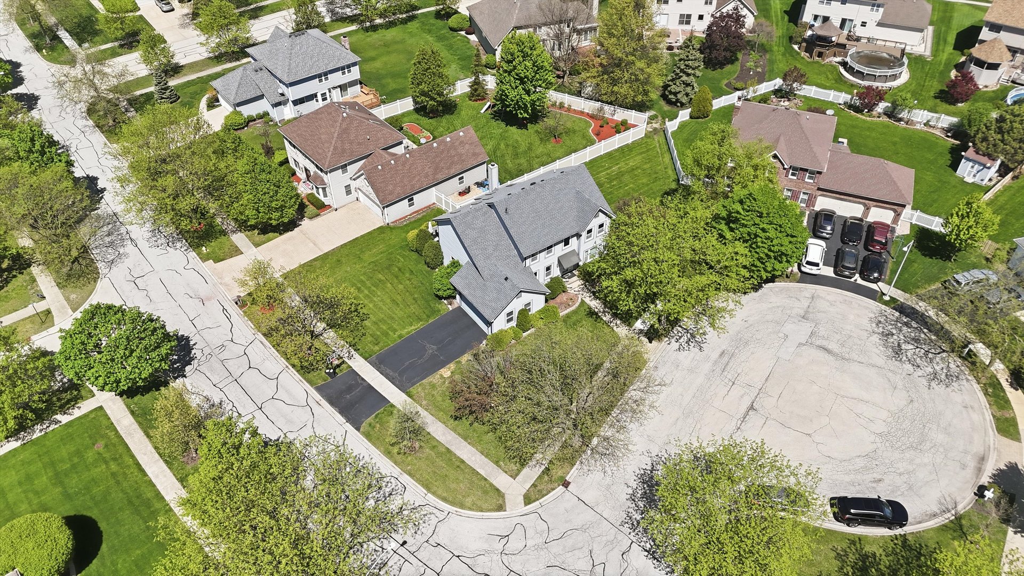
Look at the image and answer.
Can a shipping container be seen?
No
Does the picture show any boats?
No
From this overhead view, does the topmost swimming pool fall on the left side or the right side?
right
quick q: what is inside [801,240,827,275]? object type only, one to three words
car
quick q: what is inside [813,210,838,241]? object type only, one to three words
car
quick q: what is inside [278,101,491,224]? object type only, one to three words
house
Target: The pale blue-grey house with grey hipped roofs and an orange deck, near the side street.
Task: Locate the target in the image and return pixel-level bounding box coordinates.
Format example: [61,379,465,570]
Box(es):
[210,19,361,117]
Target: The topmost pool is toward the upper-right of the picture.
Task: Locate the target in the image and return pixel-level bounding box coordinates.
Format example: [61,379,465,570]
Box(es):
[845,47,911,84]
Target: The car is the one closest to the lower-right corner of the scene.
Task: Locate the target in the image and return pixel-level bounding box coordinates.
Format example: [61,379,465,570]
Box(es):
[829,495,907,532]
